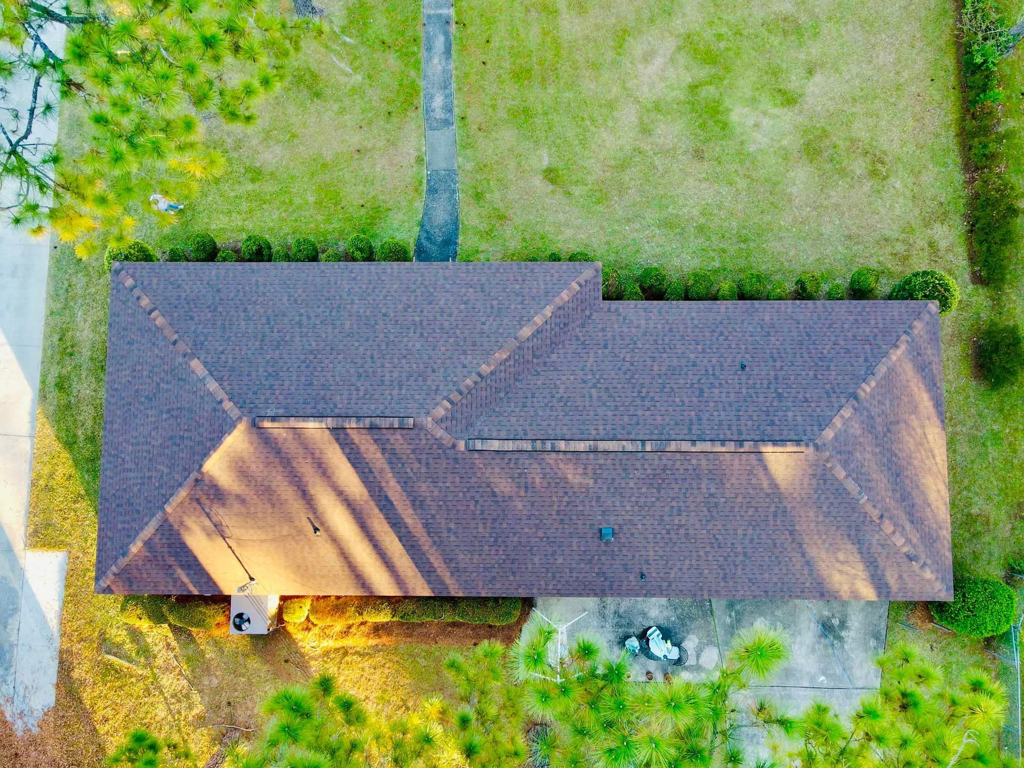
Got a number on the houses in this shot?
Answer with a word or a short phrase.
1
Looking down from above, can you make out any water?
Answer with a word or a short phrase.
No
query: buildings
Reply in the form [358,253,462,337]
[92,259,955,602]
